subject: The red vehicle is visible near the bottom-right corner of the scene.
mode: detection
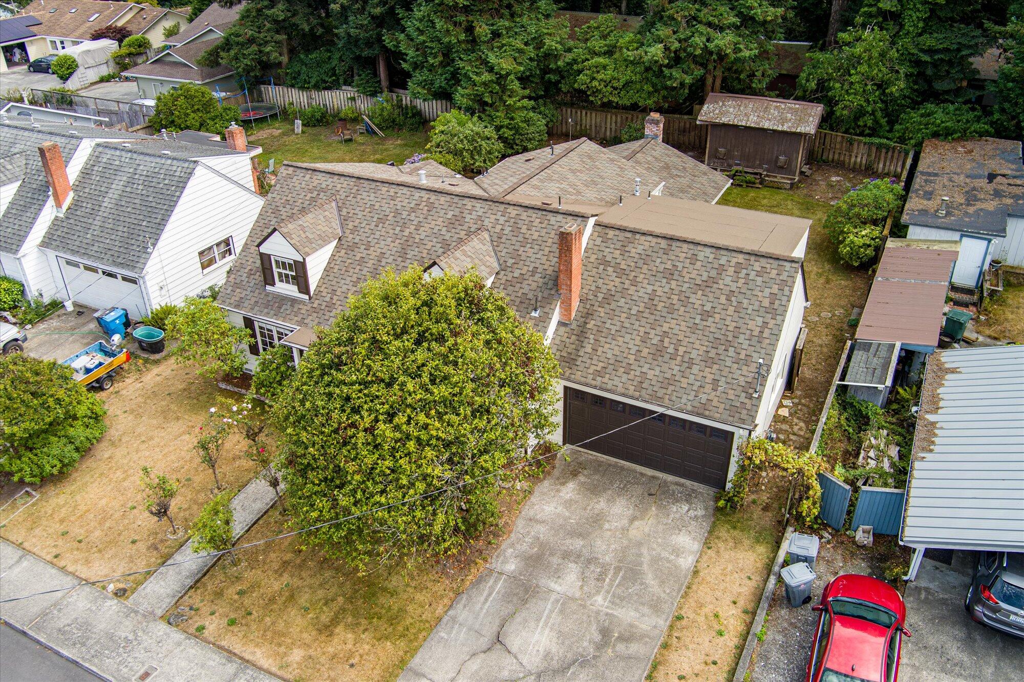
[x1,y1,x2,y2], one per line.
[800,567,919,682]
